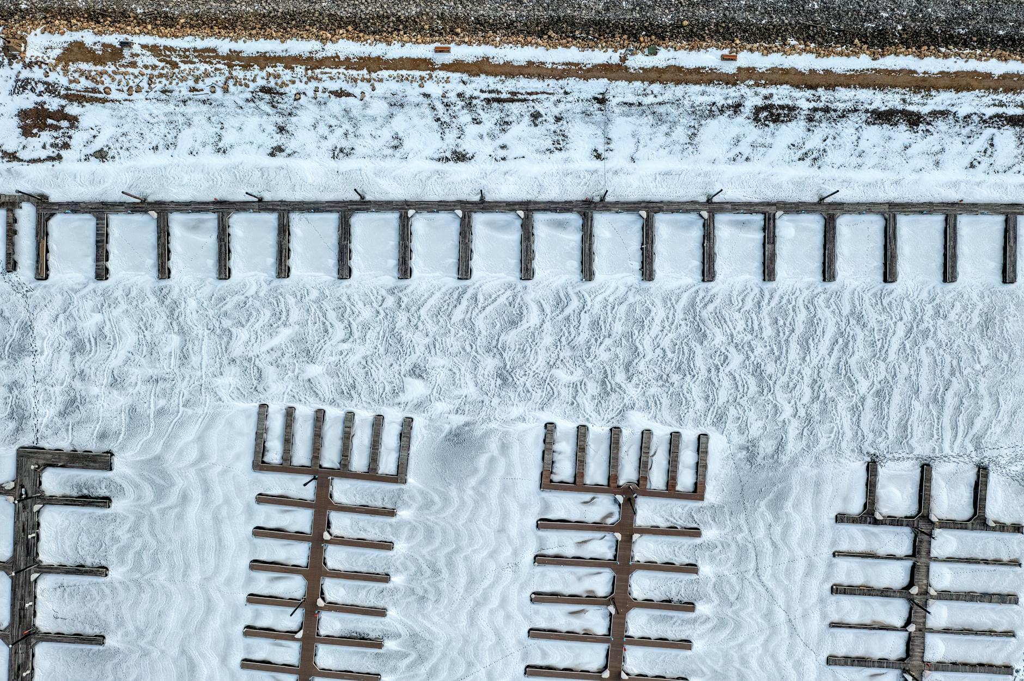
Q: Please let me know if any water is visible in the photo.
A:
Yes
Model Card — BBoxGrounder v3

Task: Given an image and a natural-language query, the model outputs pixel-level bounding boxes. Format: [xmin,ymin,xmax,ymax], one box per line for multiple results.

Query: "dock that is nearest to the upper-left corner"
[0,194,52,271]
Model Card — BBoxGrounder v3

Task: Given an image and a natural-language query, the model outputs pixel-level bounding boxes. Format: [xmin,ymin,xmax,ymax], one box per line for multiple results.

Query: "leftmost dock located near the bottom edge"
[0,449,113,681]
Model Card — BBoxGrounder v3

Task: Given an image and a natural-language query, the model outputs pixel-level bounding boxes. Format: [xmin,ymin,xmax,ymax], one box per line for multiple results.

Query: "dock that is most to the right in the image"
[826,463,1023,681]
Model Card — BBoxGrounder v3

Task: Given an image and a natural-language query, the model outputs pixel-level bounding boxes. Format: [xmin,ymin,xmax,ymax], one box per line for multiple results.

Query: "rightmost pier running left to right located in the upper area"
[35,196,1024,283]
